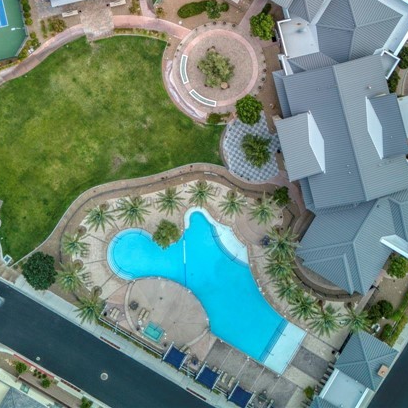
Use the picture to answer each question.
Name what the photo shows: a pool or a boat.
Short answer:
pool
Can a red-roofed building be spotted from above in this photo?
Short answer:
No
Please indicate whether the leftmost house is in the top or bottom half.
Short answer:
bottom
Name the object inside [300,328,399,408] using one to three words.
building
